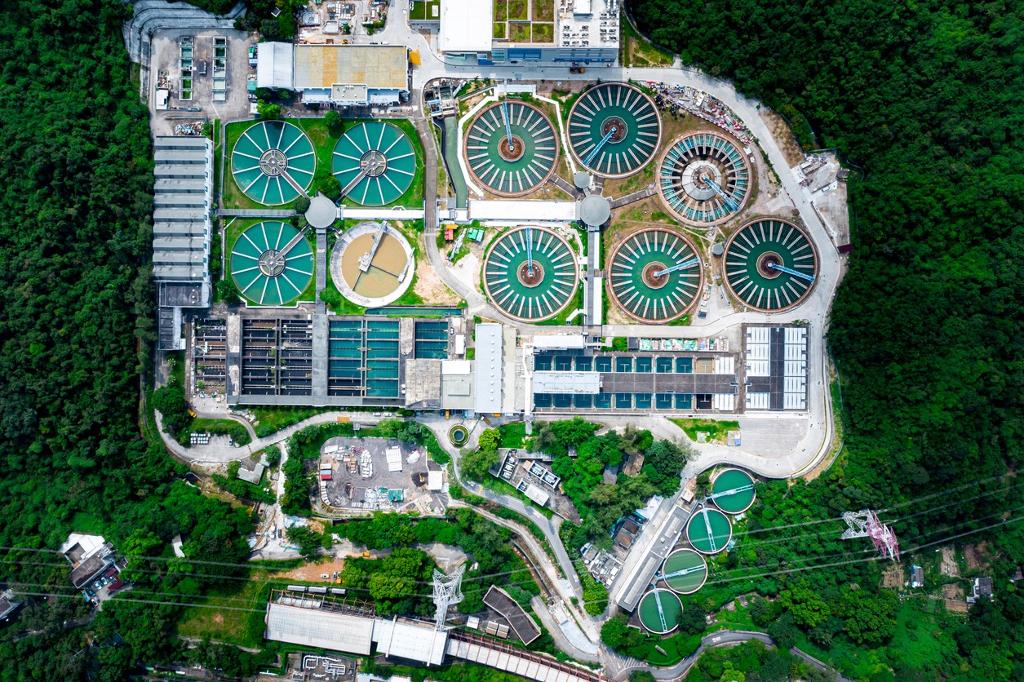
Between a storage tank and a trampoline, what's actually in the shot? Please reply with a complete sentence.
There is a storage tank in the scene.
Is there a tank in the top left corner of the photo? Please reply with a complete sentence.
Yes, a tank can be seen in the top left corner of the photo.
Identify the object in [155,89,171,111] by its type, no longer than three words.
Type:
shed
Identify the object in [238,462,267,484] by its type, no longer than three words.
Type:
house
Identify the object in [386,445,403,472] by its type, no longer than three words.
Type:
building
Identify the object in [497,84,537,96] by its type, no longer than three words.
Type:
building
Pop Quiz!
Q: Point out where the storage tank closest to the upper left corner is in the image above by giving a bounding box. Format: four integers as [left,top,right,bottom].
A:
[232,121,317,206]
